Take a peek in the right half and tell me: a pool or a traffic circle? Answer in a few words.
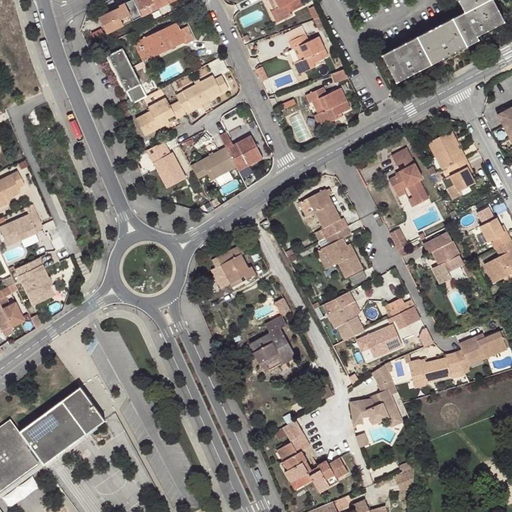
pool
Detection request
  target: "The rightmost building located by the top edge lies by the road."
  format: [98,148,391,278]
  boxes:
[384,0,506,84]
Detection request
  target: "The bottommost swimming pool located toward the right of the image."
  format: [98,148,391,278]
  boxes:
[368,425,397,444]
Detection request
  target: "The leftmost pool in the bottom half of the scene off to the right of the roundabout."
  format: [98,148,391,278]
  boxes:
[254,303,276,320]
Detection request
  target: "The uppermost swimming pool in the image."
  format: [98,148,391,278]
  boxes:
[238,8,265,28]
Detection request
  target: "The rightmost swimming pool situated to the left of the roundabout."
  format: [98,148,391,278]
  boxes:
[48,301,64,315]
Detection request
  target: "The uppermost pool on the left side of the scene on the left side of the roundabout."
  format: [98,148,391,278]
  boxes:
[4,246,25,263]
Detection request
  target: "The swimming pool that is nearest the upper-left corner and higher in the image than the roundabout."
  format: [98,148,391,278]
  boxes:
[160,60,184,83]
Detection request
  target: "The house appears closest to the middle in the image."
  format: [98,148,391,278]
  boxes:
[212,247,256,290]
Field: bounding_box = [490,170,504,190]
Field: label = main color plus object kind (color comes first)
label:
white vehicle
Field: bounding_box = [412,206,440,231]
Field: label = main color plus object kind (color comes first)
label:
blue swimming pool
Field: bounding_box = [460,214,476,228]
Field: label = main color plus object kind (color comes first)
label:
blue swimming pool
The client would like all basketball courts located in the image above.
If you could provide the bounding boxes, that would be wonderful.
[95,471,147,512]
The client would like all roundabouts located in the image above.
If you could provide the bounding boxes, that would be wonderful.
[108,230,188,310]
